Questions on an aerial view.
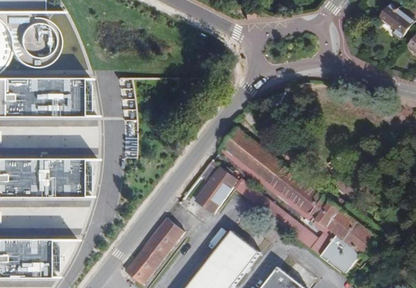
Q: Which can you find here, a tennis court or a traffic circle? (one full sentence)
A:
The image shows a traffic circle.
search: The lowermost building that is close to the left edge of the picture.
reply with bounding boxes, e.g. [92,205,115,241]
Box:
[0,238,82,283]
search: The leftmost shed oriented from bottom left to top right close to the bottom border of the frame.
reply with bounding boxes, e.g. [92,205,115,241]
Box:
[126,217,187,288]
